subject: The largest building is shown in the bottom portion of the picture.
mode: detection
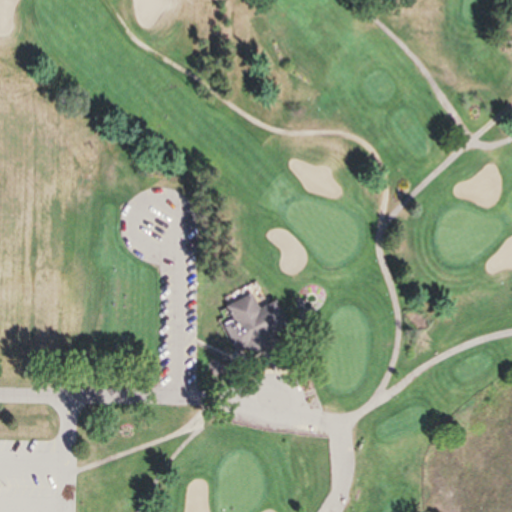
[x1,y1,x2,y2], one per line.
[227,292,280,350]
